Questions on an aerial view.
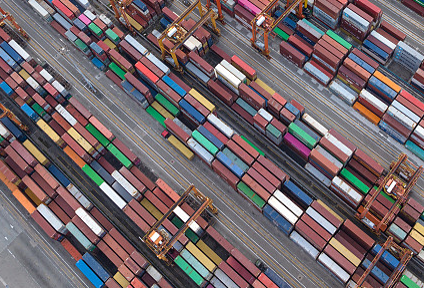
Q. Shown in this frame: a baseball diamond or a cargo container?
cargo container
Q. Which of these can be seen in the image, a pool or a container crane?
container crane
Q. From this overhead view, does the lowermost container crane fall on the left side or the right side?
right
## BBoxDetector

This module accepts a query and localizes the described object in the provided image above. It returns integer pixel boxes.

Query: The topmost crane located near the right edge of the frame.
[350,152,424,244]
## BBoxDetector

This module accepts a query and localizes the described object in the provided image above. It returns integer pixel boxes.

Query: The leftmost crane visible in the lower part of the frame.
[138,179,223,272]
